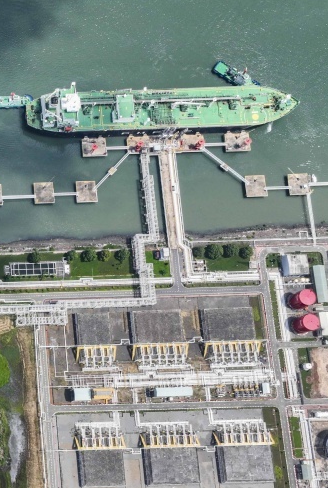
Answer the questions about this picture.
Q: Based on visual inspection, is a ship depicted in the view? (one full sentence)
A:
Yes, there's a ship down there.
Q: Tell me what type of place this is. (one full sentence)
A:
The area seen from above is an industrial area.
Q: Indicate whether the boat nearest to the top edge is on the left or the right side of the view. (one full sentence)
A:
It is on the right.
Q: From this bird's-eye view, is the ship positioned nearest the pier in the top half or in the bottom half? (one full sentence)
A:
The ship positioned nearest the pier sits in the top half of the picture.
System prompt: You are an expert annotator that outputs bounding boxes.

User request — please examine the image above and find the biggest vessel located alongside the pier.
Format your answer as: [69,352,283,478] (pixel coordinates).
[26,83,301,136]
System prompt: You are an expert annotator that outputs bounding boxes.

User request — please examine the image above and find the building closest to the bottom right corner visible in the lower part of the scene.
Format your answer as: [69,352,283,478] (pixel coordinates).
[297,460,314,480]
